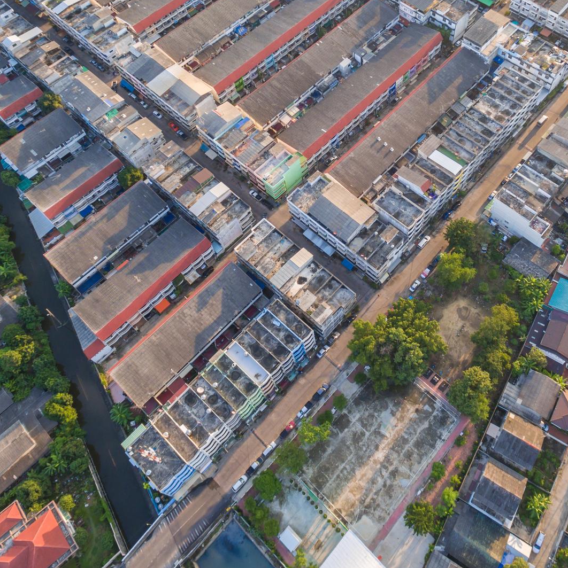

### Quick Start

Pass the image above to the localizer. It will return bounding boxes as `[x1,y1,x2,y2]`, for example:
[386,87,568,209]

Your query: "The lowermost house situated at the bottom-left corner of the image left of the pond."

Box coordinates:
[0,500,91,568]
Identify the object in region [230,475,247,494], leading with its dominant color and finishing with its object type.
white vehicle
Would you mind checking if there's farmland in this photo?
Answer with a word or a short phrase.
No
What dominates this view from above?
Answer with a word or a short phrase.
buildings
